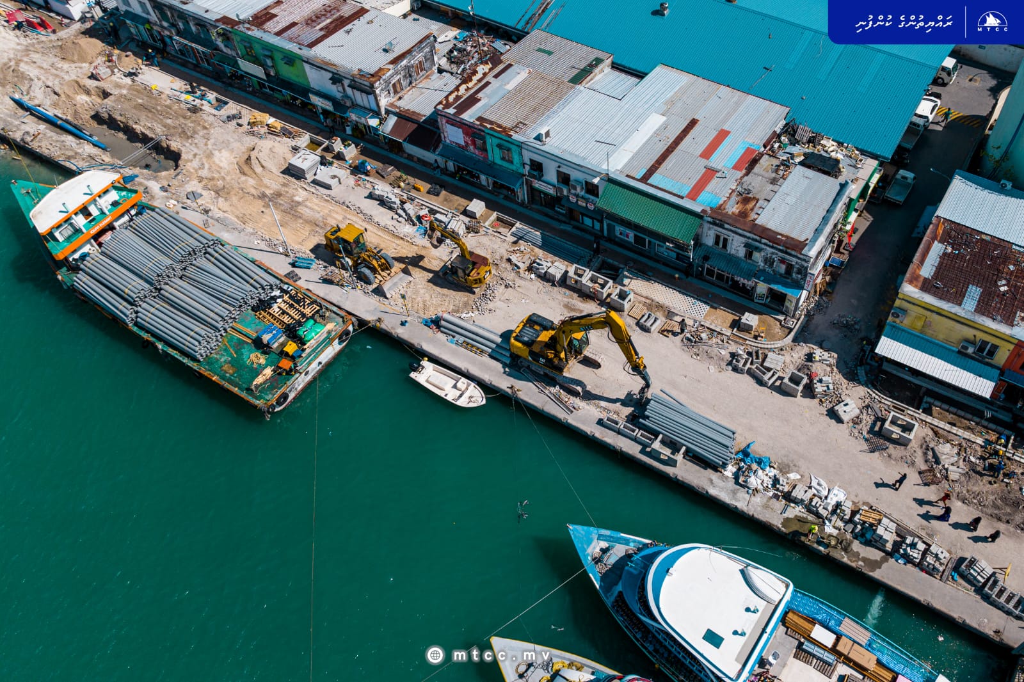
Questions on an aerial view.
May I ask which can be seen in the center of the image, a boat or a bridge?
boat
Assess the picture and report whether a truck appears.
Yes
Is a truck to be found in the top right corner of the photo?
Yes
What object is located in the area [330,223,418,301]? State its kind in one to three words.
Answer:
work vehicle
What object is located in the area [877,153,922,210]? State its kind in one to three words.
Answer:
truck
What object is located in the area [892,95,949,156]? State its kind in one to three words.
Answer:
truck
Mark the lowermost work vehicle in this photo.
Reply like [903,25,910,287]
[507,309,649,405]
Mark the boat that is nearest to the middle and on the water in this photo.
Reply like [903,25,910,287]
[407,358,485,410]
